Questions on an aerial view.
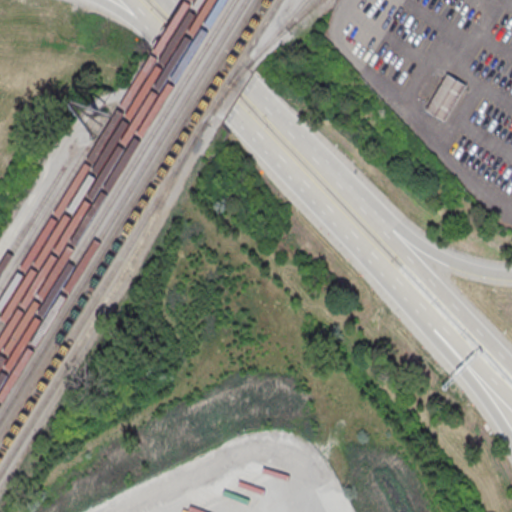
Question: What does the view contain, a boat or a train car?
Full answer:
Looking from above, you can make out a train car.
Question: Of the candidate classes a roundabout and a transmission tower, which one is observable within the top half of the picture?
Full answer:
You can see a transmission tower within the top half of the picture.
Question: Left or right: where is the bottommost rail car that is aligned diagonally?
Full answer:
The bottommost rail car that is aligned diagonally sits on the left side.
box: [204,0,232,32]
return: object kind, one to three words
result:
rail car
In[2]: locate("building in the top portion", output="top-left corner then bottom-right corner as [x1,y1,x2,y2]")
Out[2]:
[426,74,470,122]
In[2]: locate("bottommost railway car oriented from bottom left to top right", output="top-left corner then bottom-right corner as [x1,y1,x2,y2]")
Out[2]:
[2,396,40,452]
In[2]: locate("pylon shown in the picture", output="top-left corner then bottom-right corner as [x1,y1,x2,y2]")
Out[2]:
[66,100,111,140]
